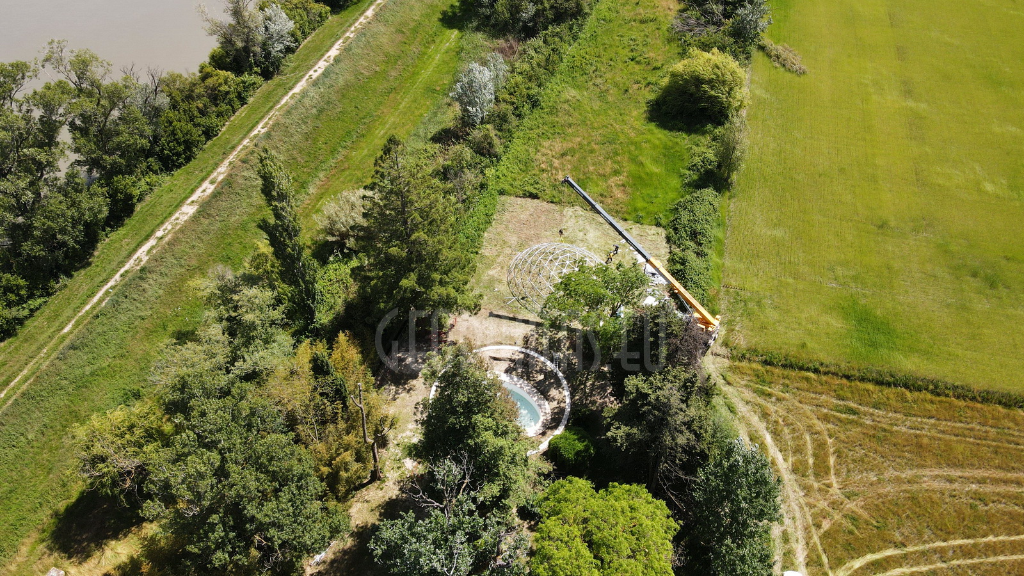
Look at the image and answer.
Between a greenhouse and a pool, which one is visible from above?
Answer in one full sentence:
It is a pool that can be seen here.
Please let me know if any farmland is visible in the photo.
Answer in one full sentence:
Yes, there is farmland in the image.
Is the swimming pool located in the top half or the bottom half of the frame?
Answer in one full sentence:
The swimming pool is in the bottom half of the image.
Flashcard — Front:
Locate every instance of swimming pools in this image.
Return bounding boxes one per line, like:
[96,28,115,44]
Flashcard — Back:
[463,370,549,438]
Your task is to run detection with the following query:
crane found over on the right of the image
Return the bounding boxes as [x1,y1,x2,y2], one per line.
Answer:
[559,173,723,382]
